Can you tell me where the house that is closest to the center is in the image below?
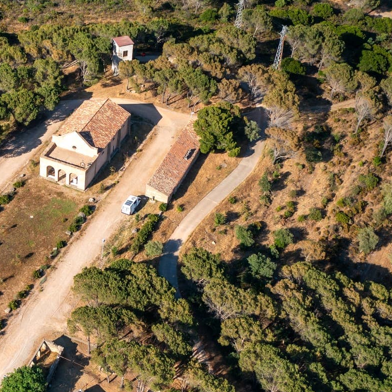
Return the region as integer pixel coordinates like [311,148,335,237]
[146,119,204,203]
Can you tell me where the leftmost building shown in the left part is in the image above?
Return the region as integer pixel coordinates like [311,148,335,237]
[27,339,65,383]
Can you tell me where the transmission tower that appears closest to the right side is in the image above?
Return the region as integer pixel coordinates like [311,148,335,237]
[271,26,289,69]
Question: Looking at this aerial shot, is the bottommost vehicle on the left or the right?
left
